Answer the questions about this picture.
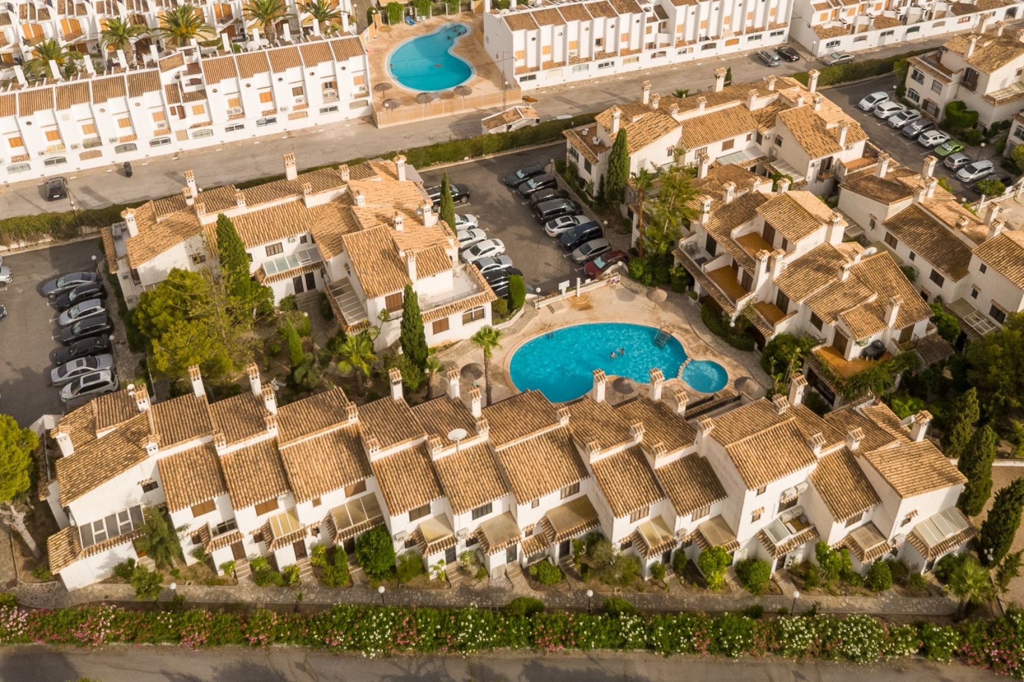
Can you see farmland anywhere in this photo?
No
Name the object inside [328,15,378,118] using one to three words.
house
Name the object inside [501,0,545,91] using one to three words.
house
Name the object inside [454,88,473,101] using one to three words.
umbrella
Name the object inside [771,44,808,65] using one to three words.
car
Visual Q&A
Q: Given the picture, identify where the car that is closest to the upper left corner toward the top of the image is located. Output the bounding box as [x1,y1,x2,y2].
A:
[46,175,68,204]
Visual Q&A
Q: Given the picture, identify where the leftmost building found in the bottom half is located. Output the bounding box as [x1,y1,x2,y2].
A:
[35,383,171,593]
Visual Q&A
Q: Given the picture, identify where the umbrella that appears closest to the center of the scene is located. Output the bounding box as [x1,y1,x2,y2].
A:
[459,366,484,386]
